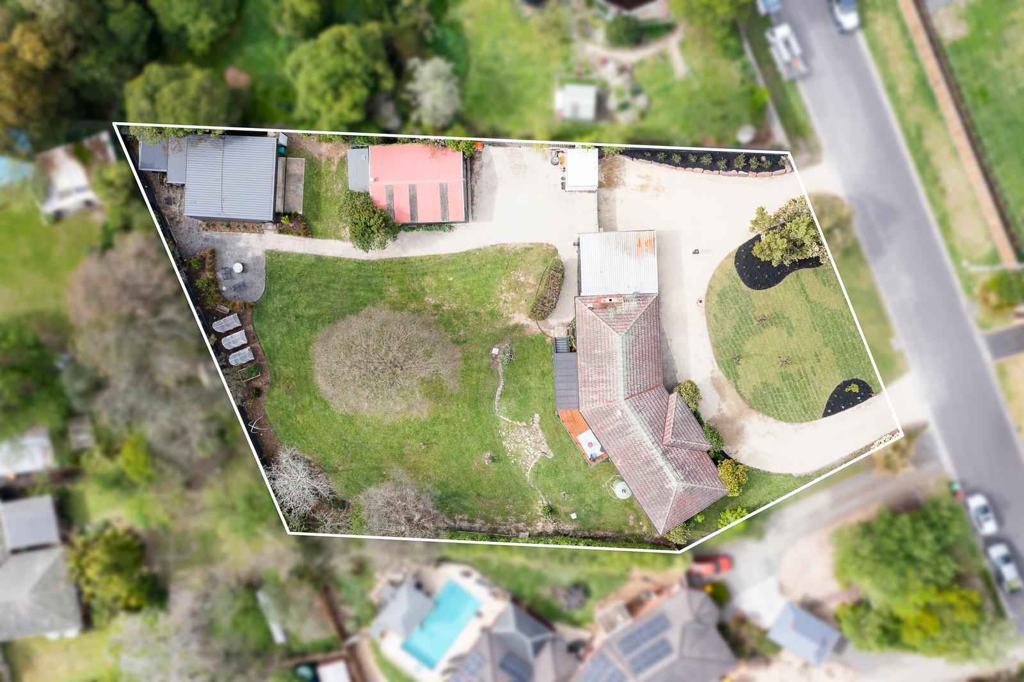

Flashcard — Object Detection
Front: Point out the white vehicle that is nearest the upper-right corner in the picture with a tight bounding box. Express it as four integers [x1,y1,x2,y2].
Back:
[828,0,862,35]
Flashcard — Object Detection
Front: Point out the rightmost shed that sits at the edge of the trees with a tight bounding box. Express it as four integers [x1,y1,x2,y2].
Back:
[761,595,840,667]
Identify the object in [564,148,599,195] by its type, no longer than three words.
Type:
shed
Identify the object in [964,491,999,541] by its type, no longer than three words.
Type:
car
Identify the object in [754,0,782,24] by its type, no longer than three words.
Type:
car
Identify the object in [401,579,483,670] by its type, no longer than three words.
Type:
swimming pool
